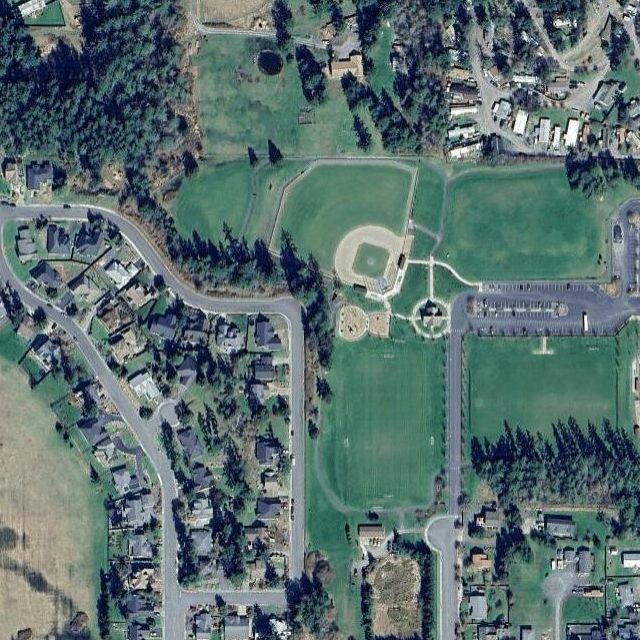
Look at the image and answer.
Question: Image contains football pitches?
Yes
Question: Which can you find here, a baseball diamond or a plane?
baseball diamond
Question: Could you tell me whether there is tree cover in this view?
Yes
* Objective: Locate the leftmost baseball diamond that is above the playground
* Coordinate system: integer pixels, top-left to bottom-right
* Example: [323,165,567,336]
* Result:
[265,158,419,295]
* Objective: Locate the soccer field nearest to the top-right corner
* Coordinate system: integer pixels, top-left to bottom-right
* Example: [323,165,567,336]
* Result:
[443,171,600,279]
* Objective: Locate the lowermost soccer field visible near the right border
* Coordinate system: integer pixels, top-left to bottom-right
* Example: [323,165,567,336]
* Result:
[470,340,616,433]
